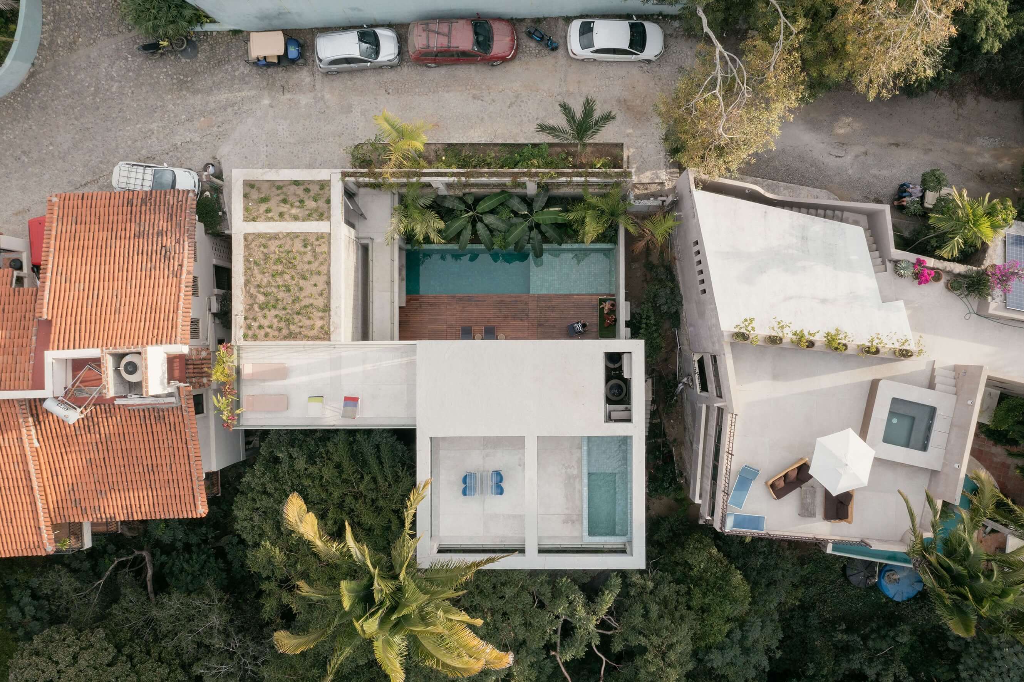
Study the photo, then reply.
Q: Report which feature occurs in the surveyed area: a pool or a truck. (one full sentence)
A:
There is a pool in the scene.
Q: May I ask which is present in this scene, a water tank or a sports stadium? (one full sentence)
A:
There is a water tank in the scene.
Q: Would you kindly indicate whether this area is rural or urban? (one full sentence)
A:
The area is urban.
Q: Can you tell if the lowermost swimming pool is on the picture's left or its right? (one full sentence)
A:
The lowermost swimming pool is on the right side of the image.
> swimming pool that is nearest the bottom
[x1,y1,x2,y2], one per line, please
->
[807,537,917,572]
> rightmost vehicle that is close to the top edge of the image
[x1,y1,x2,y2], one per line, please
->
[567,14,666,66]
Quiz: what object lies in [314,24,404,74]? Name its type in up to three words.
car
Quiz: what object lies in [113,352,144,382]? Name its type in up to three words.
water tank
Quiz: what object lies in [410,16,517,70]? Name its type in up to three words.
car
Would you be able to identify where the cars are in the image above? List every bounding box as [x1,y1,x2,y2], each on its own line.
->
[108,160,207,203]
[410,16,517,70]
[567,14,666,66]
[314,24,404,74]
[25,210,58,304]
